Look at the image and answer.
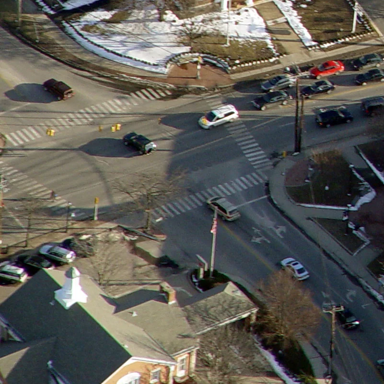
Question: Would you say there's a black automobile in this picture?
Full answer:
Yes, the photo shows a black automobile.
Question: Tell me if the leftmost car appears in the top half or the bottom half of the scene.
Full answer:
The bottom half of the photo is where the leftmost car is.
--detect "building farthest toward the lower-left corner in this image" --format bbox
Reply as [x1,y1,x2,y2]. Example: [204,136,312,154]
[0,261,297,384]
